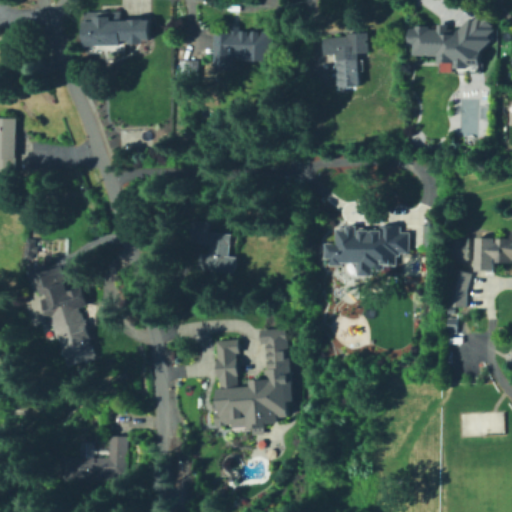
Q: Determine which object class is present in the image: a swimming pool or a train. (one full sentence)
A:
This aerial view contains a swimming pool.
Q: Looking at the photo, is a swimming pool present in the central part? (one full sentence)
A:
No, no swimming pool can be made out in the central part.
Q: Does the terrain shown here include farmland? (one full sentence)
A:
No, there is no farmland in the image.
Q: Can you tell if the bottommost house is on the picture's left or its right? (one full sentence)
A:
The bottommost house appears in the left half of the scene.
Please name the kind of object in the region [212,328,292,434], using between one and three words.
house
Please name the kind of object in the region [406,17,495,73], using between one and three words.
house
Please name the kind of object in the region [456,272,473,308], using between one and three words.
building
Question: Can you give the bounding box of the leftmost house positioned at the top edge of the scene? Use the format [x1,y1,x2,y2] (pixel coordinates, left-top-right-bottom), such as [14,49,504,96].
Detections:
[80,11,148,48]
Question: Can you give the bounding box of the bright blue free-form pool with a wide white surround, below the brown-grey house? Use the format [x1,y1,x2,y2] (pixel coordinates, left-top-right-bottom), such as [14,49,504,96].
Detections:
[243,459,271,486]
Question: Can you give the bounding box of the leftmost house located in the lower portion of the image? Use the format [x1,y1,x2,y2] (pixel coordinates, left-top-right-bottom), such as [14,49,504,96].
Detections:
[36,268,94,362]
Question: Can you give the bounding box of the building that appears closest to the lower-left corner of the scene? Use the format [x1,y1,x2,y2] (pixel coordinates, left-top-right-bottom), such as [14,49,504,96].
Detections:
[60,436,130,486]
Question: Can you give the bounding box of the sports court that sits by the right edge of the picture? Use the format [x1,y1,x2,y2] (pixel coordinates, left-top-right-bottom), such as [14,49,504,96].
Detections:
[461,410,506,438]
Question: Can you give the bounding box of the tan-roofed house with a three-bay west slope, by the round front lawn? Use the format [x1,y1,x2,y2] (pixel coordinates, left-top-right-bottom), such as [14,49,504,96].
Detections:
[474,237,512,271]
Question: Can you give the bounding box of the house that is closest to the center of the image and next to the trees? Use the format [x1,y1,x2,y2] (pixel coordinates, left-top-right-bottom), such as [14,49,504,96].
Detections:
[204,233,238,276]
